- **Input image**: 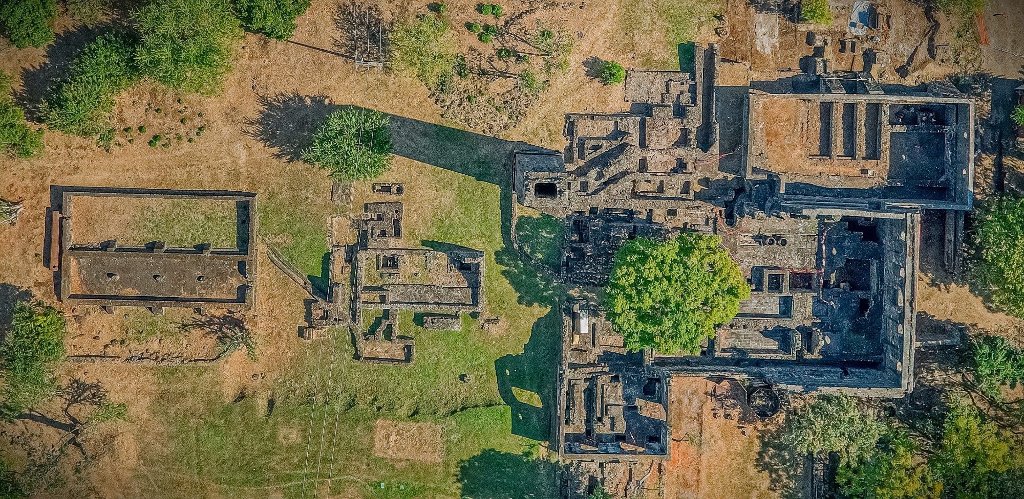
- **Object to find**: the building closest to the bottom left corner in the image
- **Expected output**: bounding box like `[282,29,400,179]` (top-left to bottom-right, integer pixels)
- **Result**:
[62,190,260,315]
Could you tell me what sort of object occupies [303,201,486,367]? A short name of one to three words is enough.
house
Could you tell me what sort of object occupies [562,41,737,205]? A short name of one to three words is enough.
house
